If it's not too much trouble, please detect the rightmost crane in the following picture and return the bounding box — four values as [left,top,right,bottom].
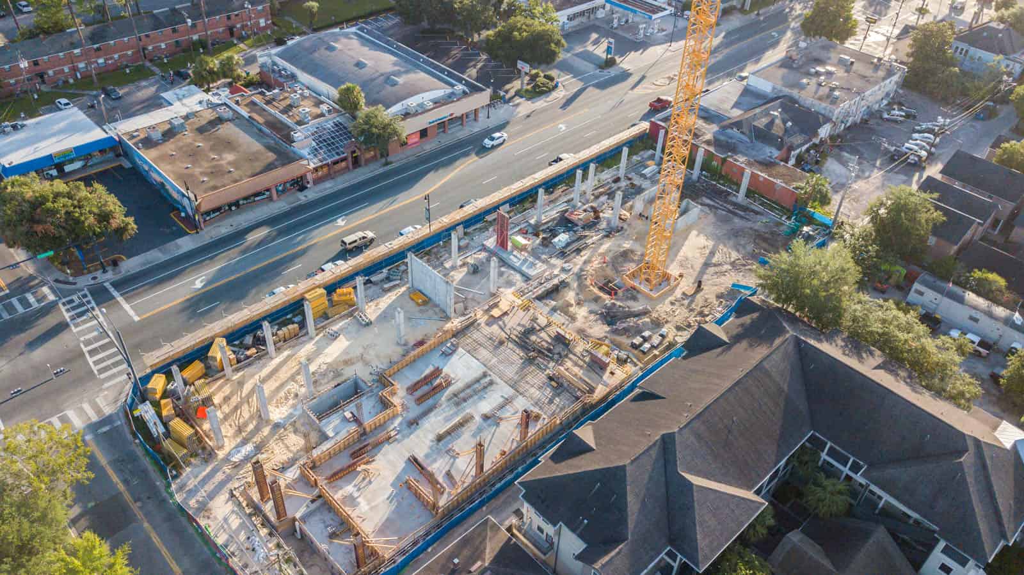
[637,0,717,288]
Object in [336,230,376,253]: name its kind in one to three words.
vehicle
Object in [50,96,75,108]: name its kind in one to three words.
vehicle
